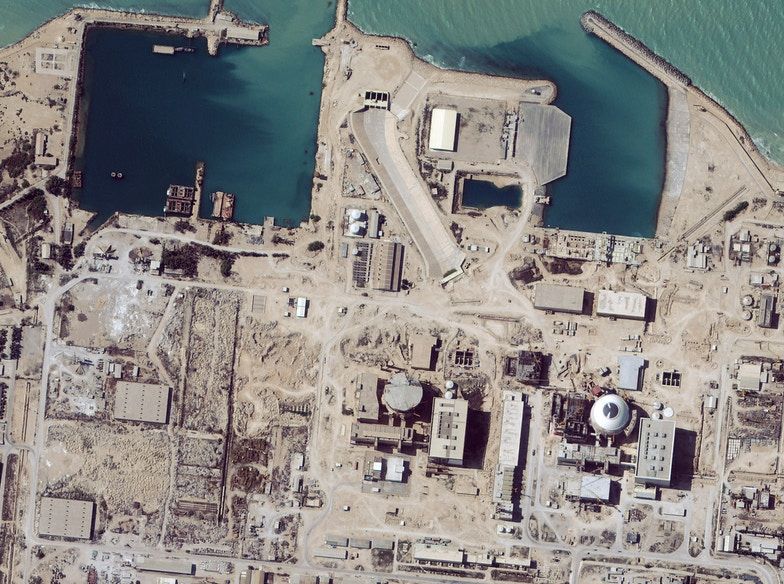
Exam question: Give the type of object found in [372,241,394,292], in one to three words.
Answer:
building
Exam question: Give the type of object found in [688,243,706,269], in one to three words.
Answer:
house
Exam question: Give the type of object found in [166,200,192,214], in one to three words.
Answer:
ship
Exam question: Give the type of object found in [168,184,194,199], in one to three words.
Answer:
ship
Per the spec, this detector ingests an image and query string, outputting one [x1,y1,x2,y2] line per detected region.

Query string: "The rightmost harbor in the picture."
[342,0,784,243]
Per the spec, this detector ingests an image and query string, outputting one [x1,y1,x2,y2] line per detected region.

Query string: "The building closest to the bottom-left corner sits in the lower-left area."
[38,496,94,540]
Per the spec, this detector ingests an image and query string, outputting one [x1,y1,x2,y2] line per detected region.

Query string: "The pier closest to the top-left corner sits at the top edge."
[194,0,272,58]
